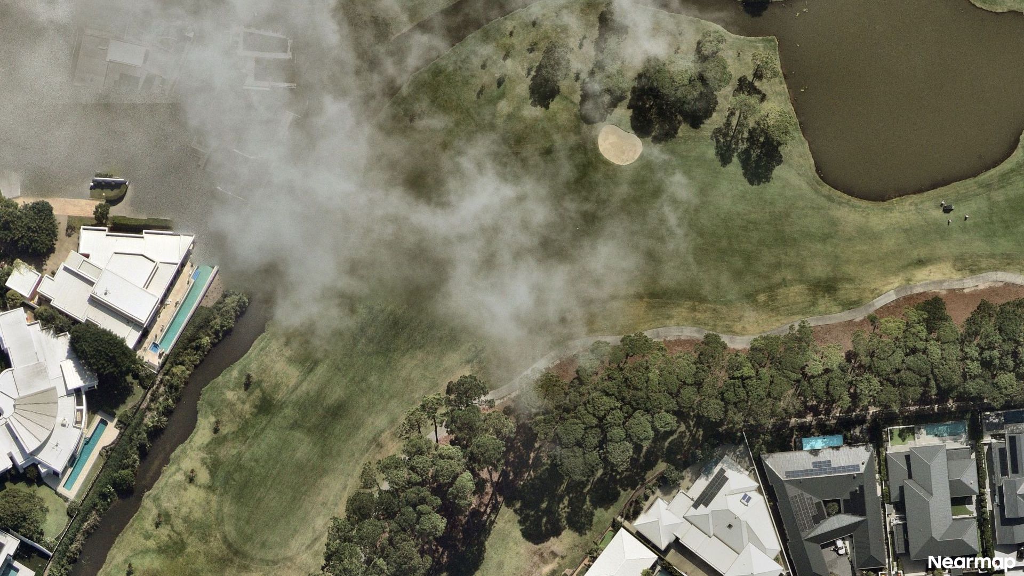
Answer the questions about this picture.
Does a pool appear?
Yes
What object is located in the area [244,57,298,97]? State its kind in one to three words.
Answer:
house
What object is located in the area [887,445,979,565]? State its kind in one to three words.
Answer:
house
